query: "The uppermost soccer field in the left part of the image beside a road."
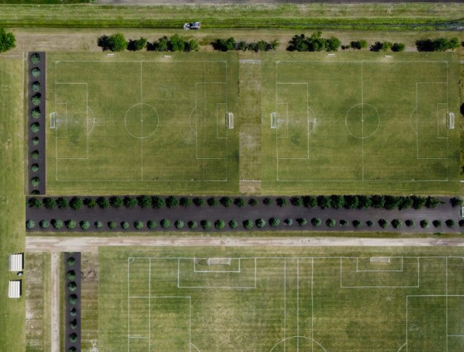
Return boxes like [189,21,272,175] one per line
[47,52,238,195]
